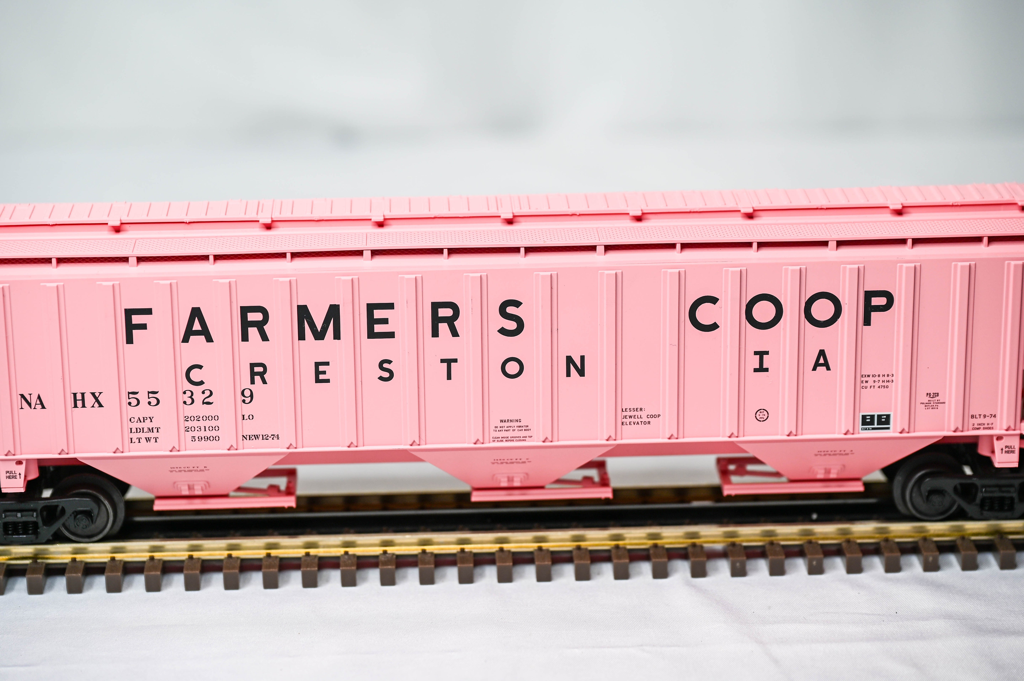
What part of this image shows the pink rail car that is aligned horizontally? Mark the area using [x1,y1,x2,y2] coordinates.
[0,184,1024,544]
